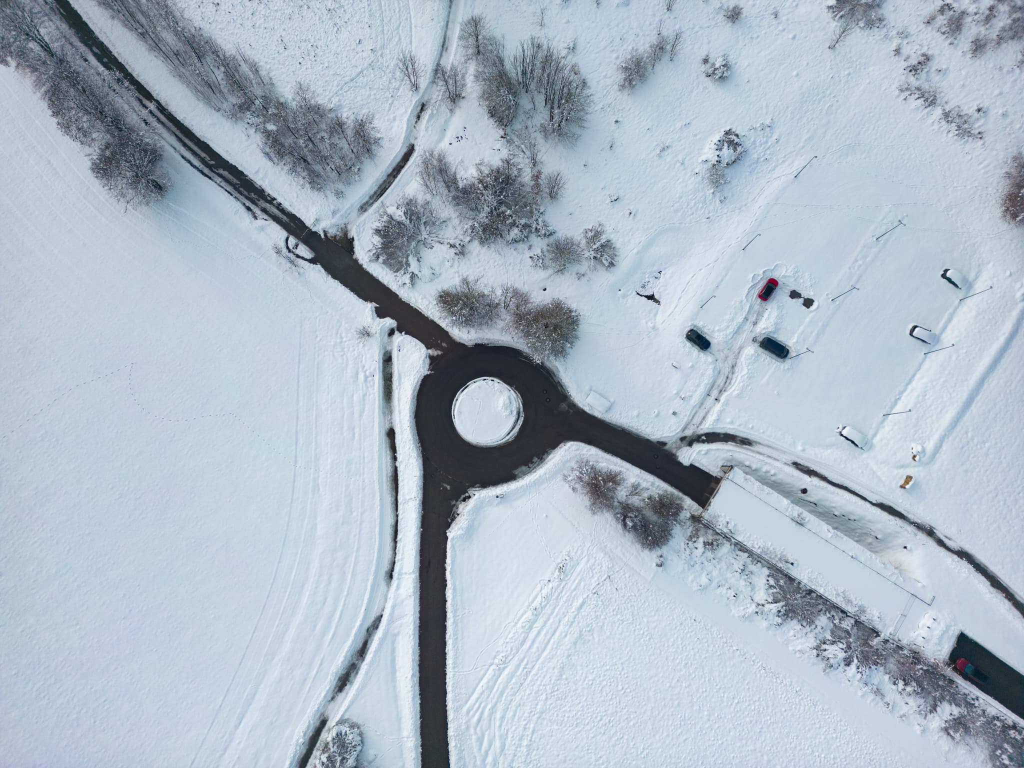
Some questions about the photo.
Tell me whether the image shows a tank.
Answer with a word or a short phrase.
No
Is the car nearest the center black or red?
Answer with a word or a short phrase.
black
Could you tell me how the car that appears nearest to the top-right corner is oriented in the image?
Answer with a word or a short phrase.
diagonally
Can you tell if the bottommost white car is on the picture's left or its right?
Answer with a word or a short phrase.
right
